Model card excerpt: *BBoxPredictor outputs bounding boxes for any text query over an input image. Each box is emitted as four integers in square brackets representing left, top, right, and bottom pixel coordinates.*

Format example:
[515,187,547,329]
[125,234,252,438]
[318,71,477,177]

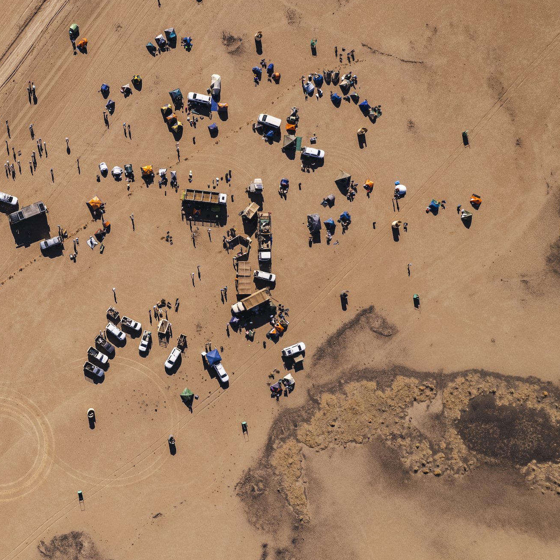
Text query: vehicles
[231,285,273,313]
[138,327,153,352]
[212,361,229,384]
[248,176,264,194]
[257,215,272,260]
[0,192,18,206]
[186,93,212,105]
[10,202,47,226]
[298,146,324,159]
[103,321,126,340]
[118,314,143,330]
[164,344,182,368]
[38,235,65,250]
[85,345,108,363]
[183,189,225,206]
[280,341,305,356]
[256,113,282,128]
[250,269,276,282]
[81,360,105,376]
[91,333,114,352]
